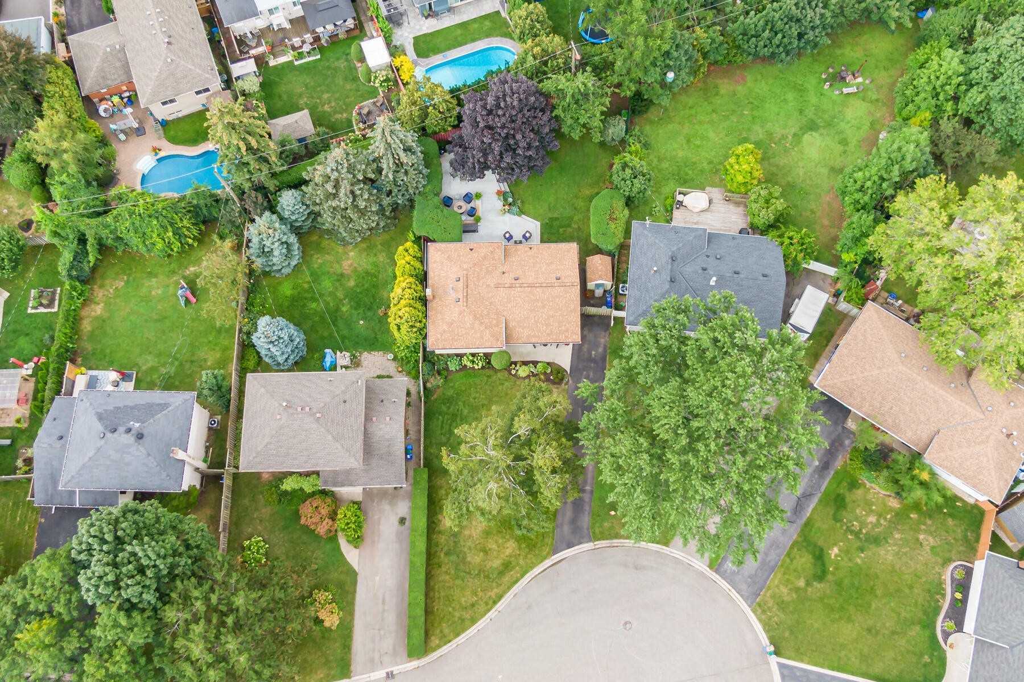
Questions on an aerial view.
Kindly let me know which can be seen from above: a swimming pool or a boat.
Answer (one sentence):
Visible in the photo is a swimming pool.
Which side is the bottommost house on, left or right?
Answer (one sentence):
You can find the bottommost house on the right side of the picture.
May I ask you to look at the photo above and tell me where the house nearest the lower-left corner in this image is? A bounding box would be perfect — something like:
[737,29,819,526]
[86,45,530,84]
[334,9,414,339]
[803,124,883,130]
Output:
[33,390,213,516]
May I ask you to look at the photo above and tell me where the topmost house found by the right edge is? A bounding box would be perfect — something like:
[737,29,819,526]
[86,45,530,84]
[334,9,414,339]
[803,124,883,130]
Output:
[811,301,1024,505]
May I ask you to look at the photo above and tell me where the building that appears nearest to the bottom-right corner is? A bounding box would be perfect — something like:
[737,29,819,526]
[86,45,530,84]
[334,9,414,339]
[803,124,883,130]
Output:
[955,551,1024,682]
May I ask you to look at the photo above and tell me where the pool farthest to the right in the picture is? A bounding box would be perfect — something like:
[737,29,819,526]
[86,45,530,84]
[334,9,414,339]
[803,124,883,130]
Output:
[415,43,519,92]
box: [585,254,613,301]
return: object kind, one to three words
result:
shed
